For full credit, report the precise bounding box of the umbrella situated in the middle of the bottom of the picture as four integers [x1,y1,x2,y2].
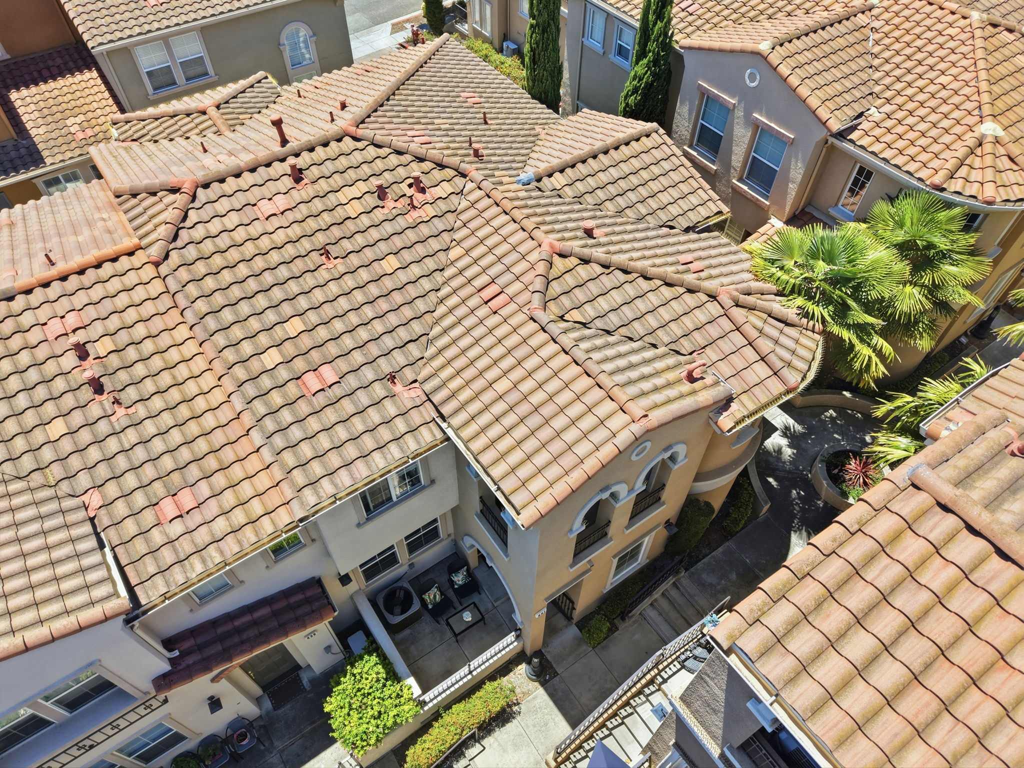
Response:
[570,738,611,768]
